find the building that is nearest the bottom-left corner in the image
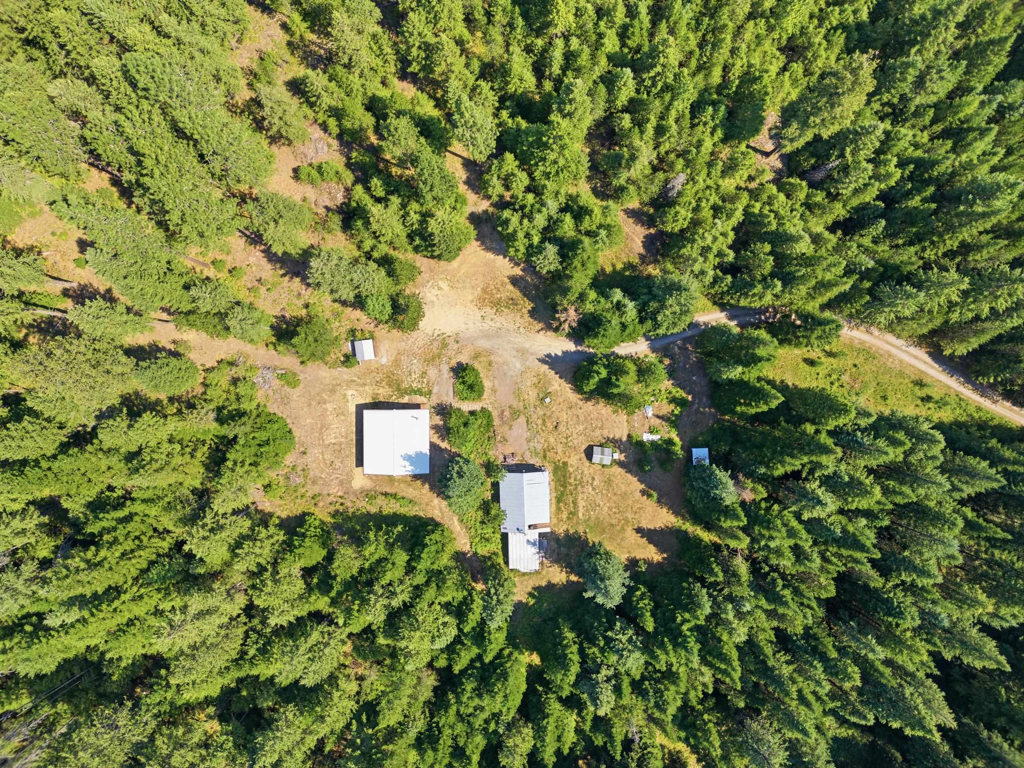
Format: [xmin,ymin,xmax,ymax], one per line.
[364,409,431,475]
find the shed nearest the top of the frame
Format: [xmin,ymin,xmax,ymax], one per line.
[355,339,377,360]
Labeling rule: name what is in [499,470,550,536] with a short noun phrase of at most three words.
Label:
house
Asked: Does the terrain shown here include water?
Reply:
No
